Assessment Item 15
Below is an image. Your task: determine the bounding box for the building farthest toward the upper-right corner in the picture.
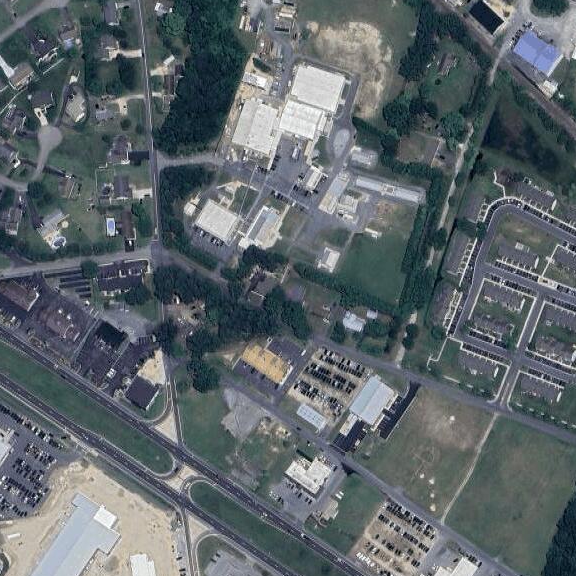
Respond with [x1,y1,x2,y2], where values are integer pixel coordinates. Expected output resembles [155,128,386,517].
[514,30,563,79]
